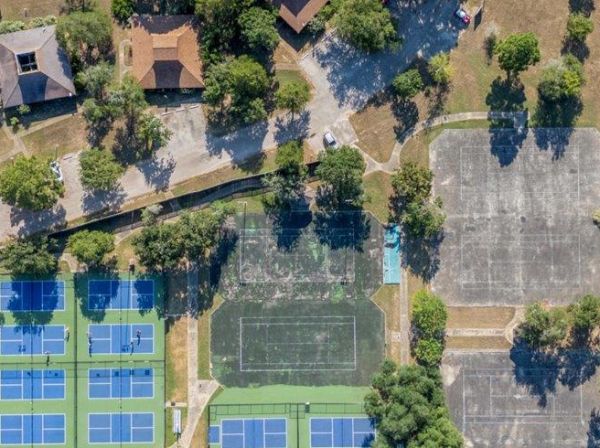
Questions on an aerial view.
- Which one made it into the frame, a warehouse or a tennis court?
tennis court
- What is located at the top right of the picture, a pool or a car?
car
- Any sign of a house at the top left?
Yes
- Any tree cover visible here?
Yes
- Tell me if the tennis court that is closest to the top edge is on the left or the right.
right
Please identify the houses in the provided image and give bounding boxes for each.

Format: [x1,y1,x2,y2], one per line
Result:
[0,27,76,108]
[264,0,328,33]
[132,15,205,89]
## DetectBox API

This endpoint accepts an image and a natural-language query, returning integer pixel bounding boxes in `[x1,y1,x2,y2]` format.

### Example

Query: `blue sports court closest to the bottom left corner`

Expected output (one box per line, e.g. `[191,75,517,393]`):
[0,413,65,448]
